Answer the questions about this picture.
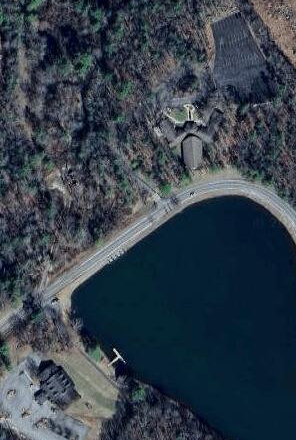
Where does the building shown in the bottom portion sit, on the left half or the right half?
left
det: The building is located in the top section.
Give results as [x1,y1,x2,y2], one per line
[161,106,225,169]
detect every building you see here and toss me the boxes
[28,360,78,407]
[161,106,225,169]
